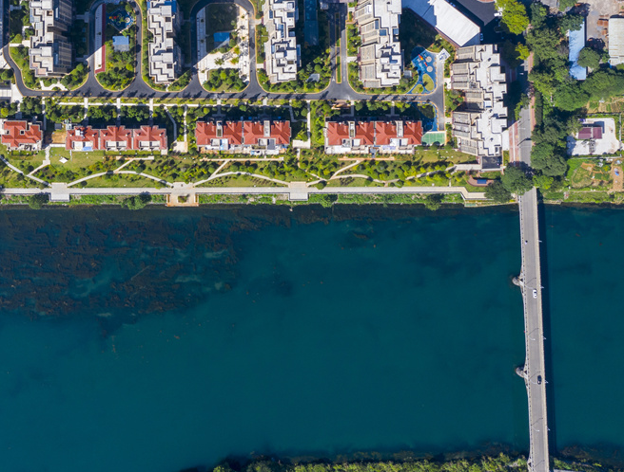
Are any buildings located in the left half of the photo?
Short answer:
Yes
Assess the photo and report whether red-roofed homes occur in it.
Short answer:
Yes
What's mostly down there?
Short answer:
water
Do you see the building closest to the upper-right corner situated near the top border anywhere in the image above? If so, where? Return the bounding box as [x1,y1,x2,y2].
[605,17,624,58]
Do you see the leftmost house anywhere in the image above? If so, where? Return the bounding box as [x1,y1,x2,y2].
[1,120,46,150]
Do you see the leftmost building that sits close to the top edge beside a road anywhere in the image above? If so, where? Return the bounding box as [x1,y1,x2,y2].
[29,0,76,80]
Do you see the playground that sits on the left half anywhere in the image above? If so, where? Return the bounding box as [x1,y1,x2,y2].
[106,7,135,32]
